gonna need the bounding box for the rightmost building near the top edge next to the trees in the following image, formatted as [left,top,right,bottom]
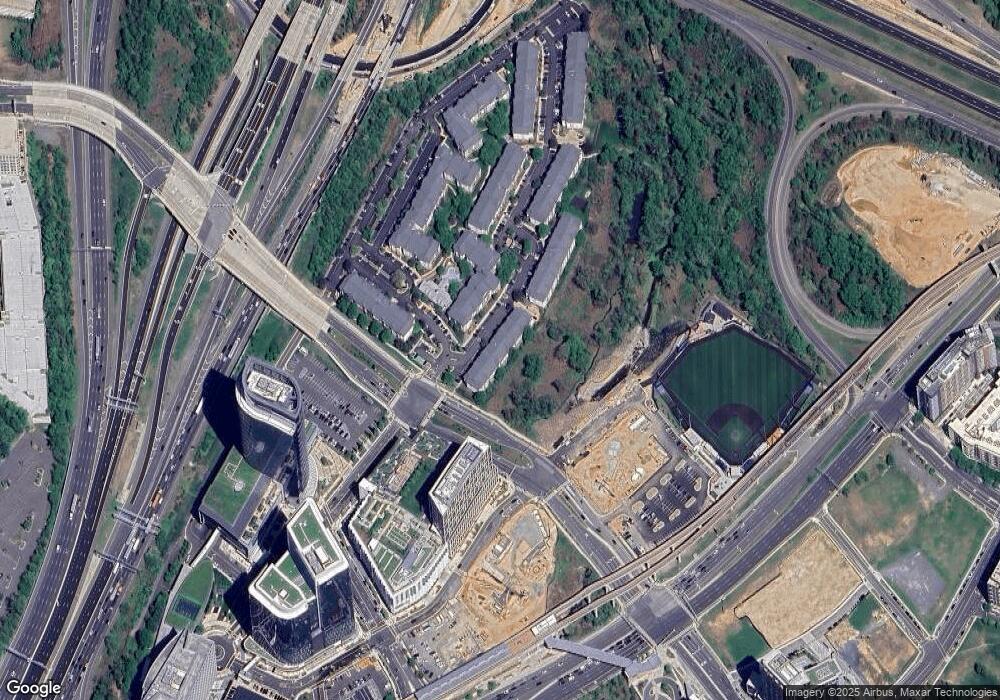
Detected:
[562,31,589,129]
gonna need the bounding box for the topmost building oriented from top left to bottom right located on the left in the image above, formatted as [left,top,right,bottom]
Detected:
[339,270,416,341]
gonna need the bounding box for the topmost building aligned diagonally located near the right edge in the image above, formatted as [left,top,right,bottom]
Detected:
[916,321,1000,421]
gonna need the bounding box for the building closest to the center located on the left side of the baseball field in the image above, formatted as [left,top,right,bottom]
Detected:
[463,306,532,392]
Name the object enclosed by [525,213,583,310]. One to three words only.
building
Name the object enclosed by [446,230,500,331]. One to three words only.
building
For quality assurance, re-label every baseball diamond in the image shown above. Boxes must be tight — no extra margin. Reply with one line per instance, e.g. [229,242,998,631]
[657,322,814,466]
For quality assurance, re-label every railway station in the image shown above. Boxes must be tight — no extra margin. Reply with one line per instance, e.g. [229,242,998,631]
[414,616,558,700]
